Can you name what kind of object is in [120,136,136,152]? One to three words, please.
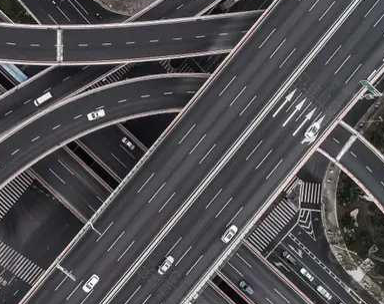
car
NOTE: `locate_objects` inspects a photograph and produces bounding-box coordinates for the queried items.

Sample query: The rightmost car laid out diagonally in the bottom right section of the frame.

[316,284,334,301]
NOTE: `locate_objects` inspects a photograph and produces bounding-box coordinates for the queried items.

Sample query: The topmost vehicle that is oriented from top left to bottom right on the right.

[281,248,297,263]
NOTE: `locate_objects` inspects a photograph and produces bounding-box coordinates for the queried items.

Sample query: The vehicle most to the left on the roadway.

[0,64,26,83]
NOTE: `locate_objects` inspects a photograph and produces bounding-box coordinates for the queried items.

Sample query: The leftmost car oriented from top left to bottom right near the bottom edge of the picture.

[238,279,255,296]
